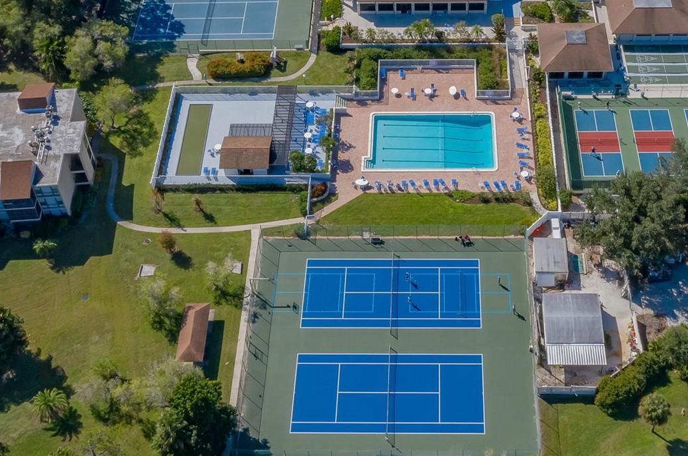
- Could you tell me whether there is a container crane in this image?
No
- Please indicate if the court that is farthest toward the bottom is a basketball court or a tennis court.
tennis court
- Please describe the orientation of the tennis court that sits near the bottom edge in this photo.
from left to right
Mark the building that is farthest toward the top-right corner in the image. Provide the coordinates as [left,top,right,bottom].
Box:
[606,0,688,44]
